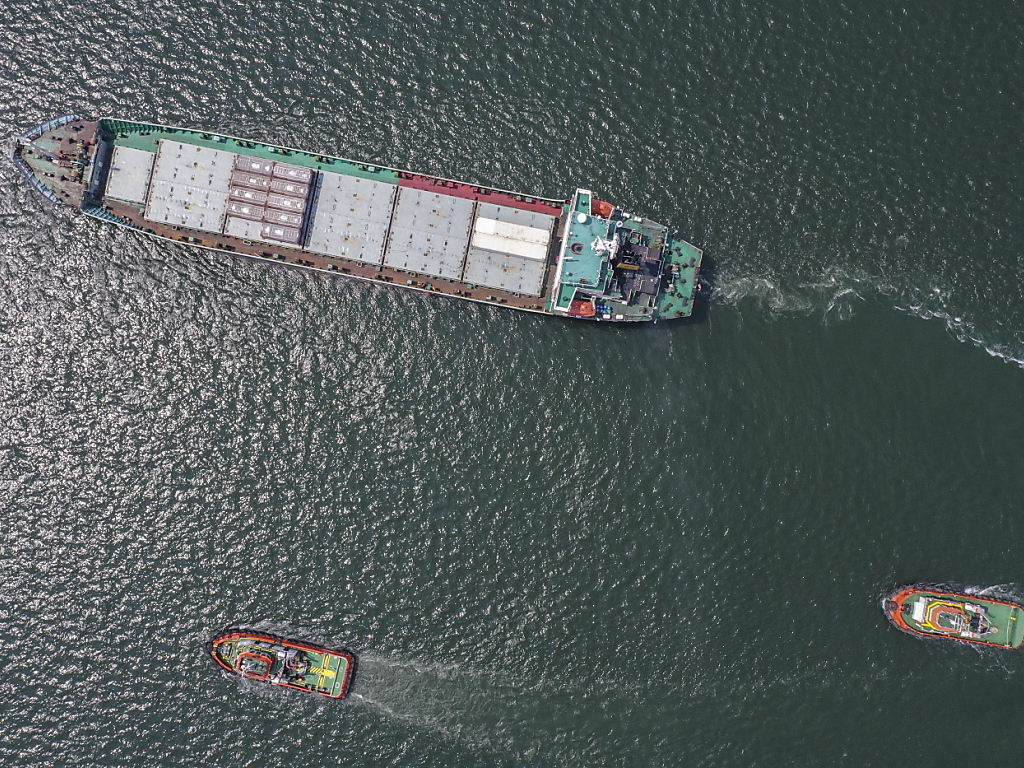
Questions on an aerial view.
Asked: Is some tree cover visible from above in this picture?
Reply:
No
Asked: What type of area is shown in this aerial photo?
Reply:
port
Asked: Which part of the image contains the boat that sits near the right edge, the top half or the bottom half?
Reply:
bottom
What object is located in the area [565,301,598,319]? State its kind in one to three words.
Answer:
boat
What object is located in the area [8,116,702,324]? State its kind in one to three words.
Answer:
ship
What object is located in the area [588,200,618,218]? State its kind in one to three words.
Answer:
boat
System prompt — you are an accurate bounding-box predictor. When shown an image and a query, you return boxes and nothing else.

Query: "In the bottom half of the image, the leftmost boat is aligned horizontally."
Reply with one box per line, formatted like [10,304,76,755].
[206,628,358,695]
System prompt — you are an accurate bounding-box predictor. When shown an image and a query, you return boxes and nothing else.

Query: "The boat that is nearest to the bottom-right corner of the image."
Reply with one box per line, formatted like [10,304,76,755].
[883,584,1024,647]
